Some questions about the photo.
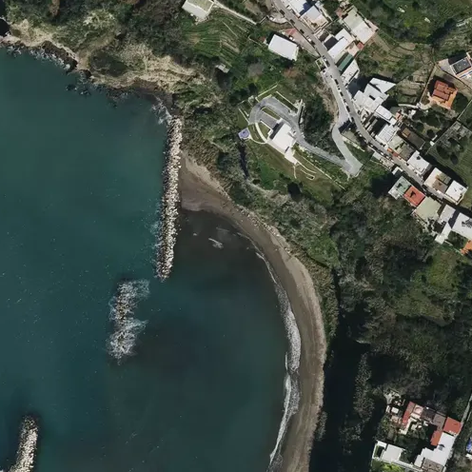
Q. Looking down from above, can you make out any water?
Yes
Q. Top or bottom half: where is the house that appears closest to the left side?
top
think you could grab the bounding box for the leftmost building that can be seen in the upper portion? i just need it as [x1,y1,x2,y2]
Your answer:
[181,0,214,20]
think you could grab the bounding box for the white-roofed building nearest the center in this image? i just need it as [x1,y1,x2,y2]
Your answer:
[270,123,298,166]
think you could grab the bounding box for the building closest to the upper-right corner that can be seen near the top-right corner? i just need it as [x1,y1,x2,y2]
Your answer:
[439,56,472,77]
